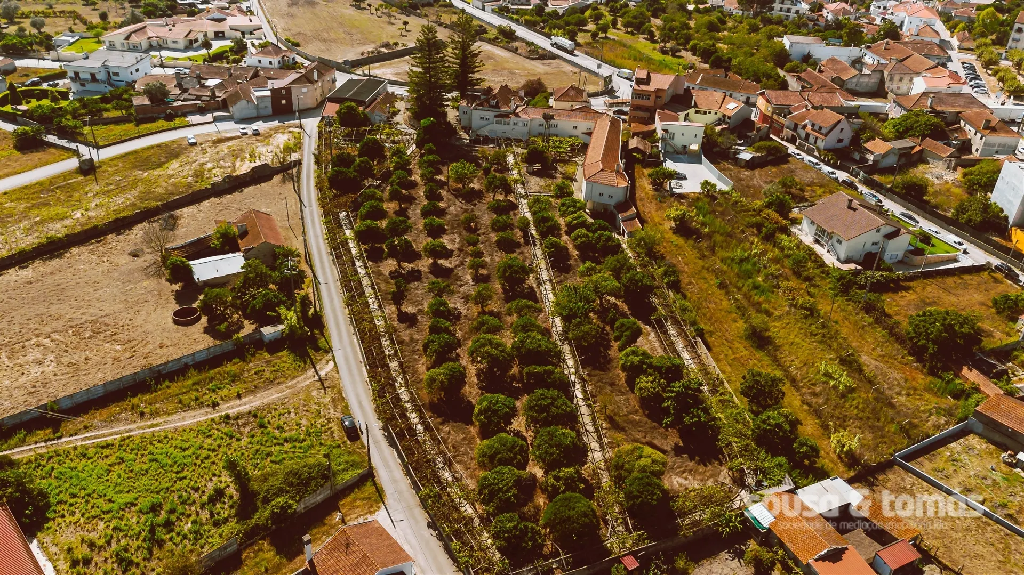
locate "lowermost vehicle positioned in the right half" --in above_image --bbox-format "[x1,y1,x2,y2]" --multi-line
[992,263,1022,281]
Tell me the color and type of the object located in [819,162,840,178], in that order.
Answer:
white vehicle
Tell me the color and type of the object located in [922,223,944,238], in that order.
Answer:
white car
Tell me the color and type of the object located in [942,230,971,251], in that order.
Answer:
white vehicle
